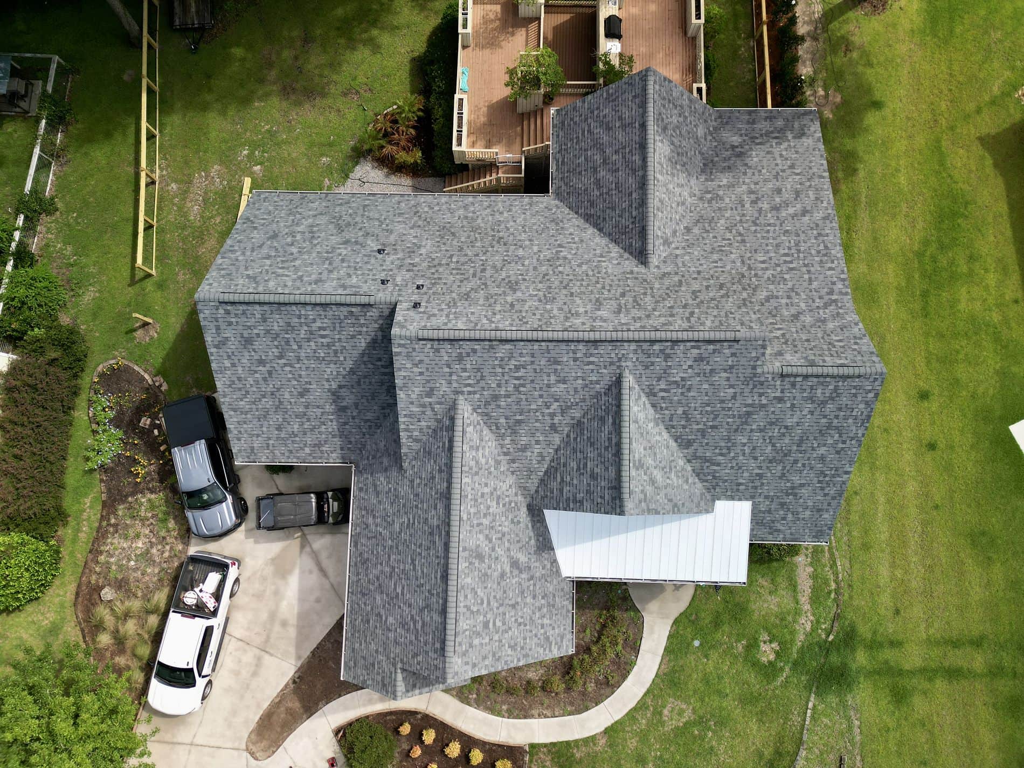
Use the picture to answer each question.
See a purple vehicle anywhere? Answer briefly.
No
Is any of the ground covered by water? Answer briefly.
No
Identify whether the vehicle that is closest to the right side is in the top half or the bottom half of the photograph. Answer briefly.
bottom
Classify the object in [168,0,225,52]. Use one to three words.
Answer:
trailer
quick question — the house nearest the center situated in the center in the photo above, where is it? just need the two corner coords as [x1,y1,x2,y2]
[196,68,885,700]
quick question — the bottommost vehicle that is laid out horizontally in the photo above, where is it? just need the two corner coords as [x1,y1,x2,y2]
[253,486,347,529]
